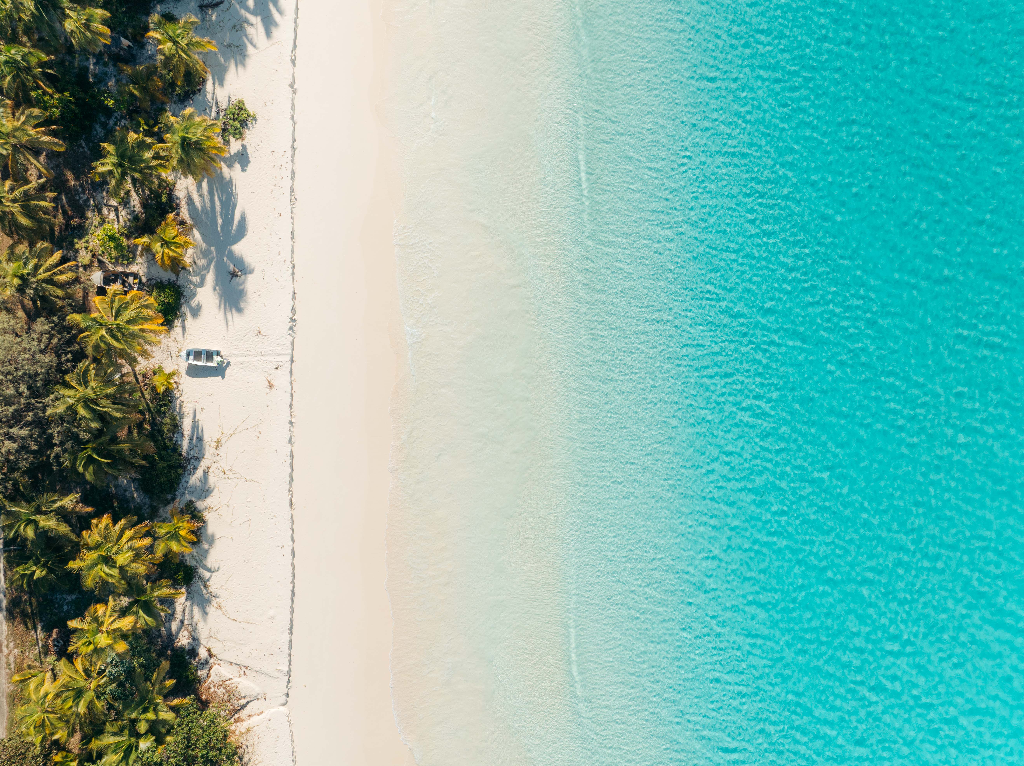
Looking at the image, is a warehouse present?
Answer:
No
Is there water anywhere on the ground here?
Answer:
Yes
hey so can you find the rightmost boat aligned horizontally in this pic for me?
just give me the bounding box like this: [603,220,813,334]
[179,348,228,366]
